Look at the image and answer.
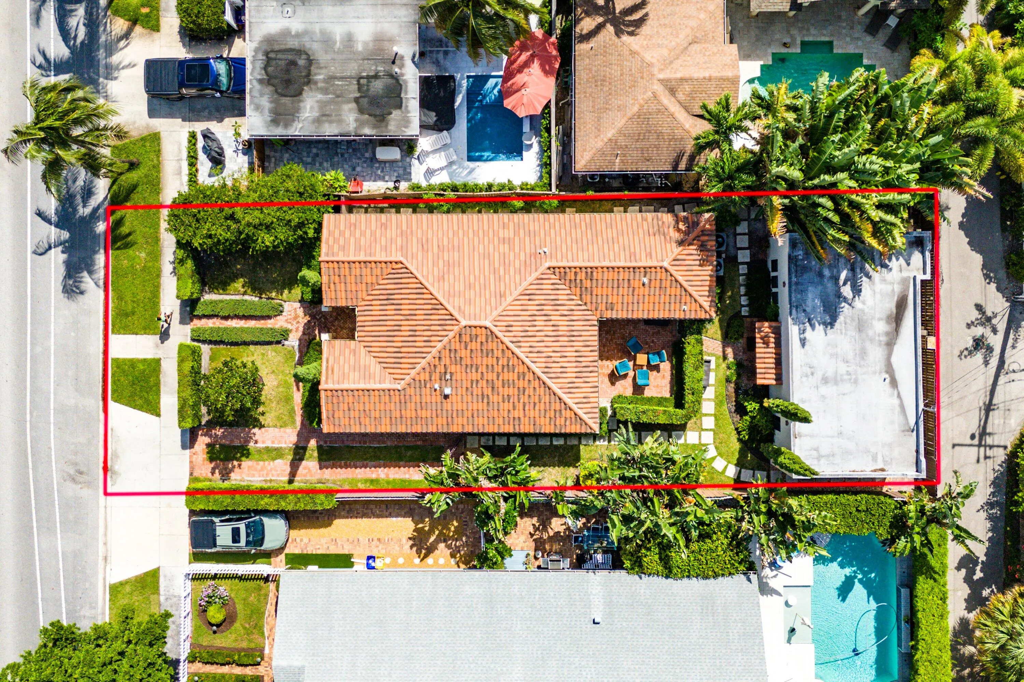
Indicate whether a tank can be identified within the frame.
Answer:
No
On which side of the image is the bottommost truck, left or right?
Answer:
left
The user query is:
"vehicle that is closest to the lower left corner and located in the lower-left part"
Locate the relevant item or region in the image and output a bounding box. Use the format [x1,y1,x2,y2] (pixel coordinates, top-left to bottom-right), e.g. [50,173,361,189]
[191,510,292,558]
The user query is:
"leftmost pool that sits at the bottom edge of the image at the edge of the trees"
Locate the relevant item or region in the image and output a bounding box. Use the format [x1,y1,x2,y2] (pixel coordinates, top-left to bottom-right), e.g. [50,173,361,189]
[783,516,898,682]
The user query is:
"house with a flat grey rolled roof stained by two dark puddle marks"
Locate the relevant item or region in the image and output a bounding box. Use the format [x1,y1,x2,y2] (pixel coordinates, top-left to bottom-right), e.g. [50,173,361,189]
[247,0,420,139]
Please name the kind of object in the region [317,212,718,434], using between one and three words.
house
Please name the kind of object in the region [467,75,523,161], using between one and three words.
swimming pool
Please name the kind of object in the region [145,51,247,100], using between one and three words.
truck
